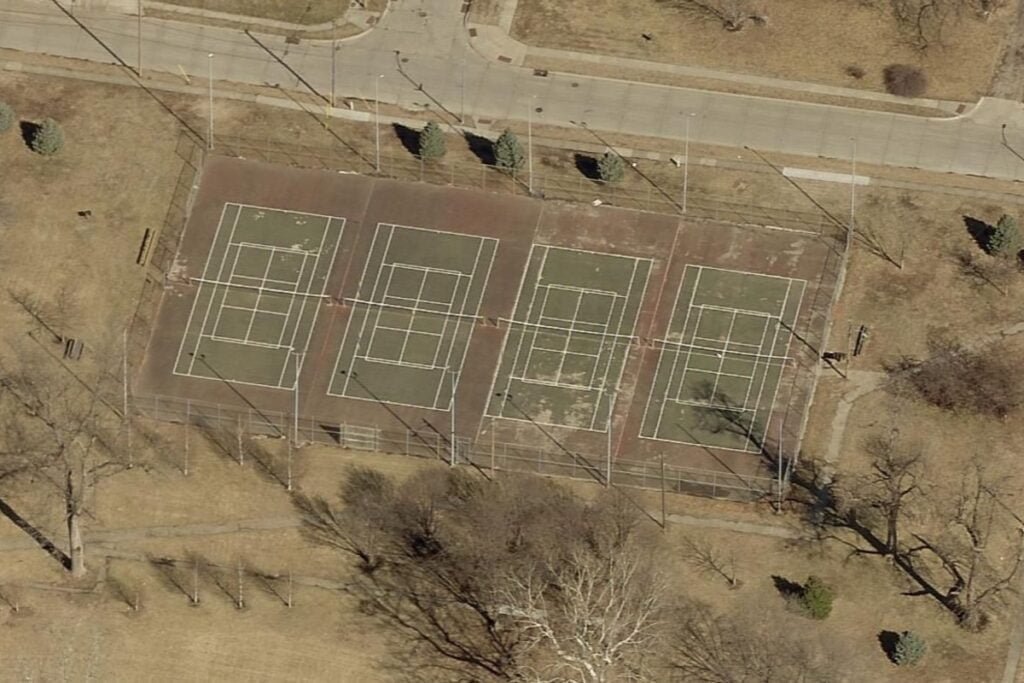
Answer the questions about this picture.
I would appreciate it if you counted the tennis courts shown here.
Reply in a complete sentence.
In total, 4 tennis courts can be seen.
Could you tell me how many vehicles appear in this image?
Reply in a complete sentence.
No vehicles are visible.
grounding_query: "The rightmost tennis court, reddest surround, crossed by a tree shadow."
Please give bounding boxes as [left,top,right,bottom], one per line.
[614,221,845,500]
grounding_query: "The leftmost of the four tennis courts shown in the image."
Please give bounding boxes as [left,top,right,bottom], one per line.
[132,157,376,434]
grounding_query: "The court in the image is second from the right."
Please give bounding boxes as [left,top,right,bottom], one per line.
[473,203,682,477]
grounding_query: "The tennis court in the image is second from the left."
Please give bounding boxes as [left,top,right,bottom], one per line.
[302,180,546,457]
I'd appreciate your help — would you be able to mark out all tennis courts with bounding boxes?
[473,203,682,477]
[132,157,376,434]
[302,180,546,457]
[614,221,845,500]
